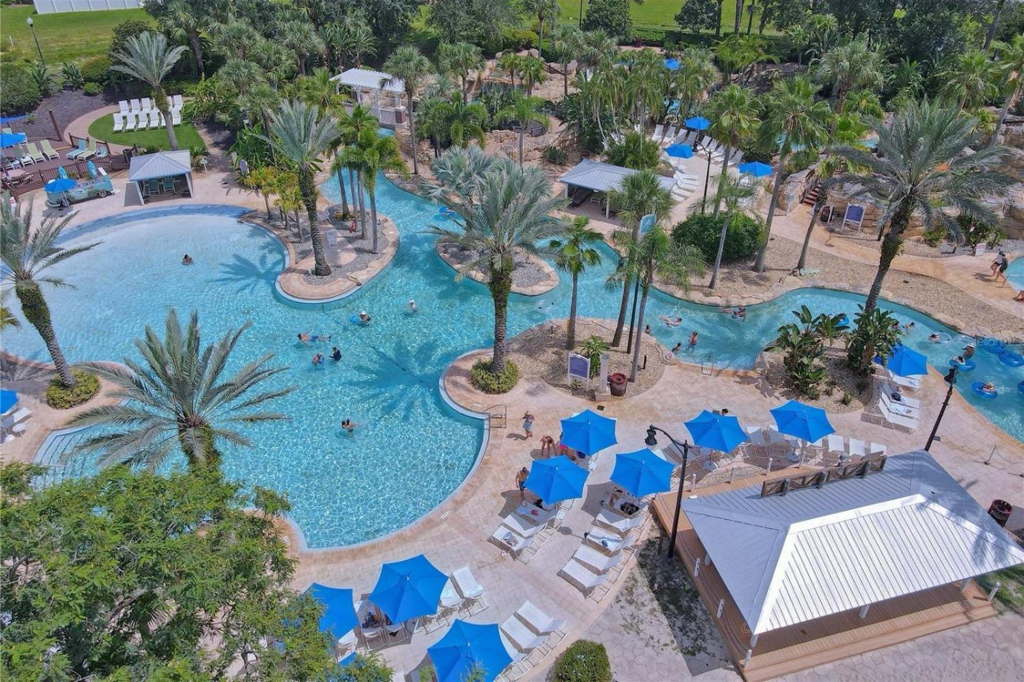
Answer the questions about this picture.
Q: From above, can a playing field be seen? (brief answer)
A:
No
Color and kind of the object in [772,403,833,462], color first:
blue umbrella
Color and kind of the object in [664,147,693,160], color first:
blue umbrella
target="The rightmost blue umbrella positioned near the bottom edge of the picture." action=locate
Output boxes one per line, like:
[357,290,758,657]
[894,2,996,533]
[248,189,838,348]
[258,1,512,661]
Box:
[427,623,512,682]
